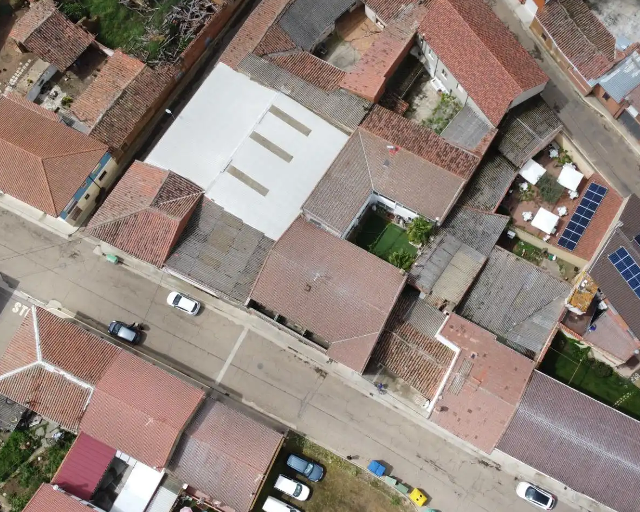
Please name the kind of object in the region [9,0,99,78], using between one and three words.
barn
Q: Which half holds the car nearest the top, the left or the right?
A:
left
